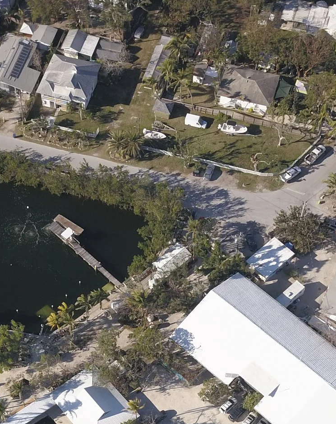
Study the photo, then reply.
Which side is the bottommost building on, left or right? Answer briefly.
left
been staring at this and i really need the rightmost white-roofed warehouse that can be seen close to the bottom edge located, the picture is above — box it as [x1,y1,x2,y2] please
[171,273,336,424]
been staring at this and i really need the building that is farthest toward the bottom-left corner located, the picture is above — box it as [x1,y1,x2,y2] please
[53,368,140,424]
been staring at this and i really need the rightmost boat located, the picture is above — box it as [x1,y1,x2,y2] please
[217,118,250,135]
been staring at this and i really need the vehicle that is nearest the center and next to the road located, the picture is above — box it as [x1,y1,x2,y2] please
[203,165,215,182]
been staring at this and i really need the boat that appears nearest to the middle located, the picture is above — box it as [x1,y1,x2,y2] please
[142,124,169,140]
